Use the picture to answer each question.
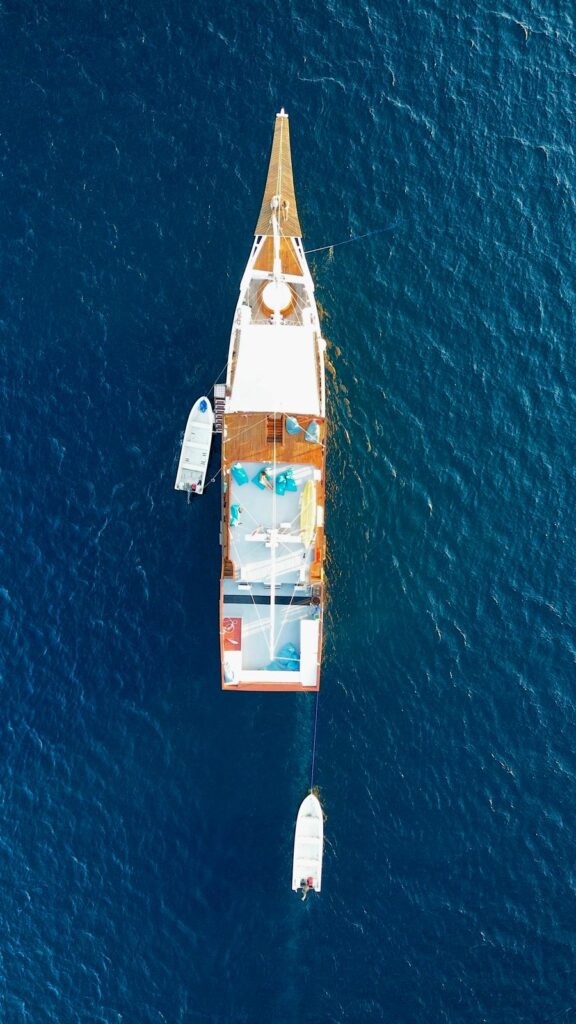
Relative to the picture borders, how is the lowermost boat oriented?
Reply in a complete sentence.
The lowermost boat has been laid out up and down relative to the frame.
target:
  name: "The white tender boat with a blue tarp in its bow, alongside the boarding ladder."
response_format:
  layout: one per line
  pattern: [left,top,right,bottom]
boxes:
[175,396,211,501]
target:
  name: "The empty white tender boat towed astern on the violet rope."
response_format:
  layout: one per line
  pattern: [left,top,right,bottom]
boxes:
[292,794,323,899]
